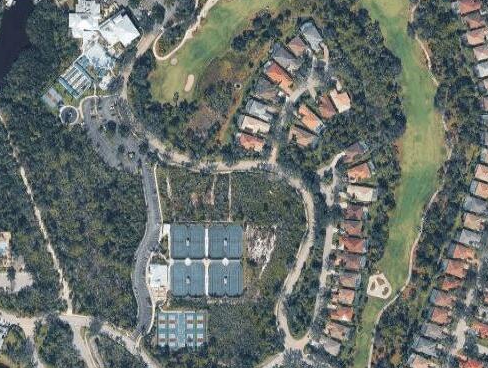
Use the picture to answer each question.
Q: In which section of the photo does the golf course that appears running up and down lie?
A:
right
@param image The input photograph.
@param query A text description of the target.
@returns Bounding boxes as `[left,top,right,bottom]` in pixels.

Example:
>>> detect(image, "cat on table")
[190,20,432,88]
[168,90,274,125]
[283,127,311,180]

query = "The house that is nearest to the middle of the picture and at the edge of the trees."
[238,134,265,152]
